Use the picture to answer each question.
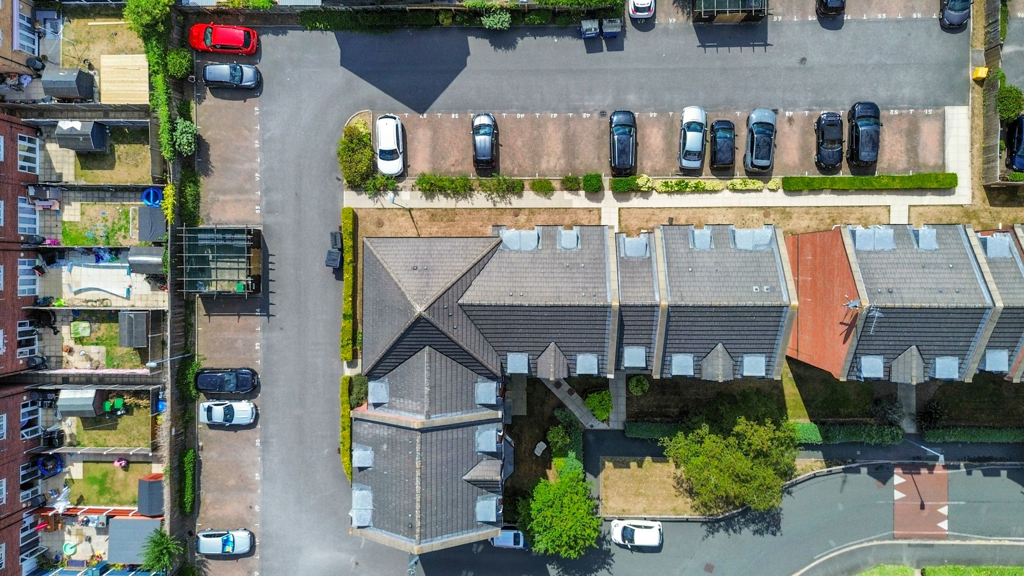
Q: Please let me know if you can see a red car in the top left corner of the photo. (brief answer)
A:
Yes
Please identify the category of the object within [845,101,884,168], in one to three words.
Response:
car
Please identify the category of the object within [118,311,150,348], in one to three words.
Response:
shed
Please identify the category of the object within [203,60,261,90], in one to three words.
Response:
car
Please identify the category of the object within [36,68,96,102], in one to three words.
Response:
shed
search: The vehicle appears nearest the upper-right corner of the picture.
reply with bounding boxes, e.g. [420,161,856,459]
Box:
[936,0,974,29]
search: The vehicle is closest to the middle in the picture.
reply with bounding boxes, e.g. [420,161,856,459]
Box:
[469,113,500,170]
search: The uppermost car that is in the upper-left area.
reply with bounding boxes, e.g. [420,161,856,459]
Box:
[192,21,257,56]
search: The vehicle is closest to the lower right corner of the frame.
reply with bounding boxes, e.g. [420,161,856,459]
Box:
[611,519,662,549]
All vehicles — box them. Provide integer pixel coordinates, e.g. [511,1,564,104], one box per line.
[469,113,500,170]
[483,524,540,557]
[192,21,257,56]
[197,527,254,559]
[676,106,710,171]
[203,60,261,90]
[814,0,845,17]
[936,0,974,29]
[374,115,405,177]
[611,519,662,549]
[608,110,640,176]
[709,120,739,170]
[743,109,779,173]
[196,367,259,397]
[628,0,655,19]
[1000,113,1024,172]
[199,399,258,428]
[845,101,884,168]
[814,113,847,170]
